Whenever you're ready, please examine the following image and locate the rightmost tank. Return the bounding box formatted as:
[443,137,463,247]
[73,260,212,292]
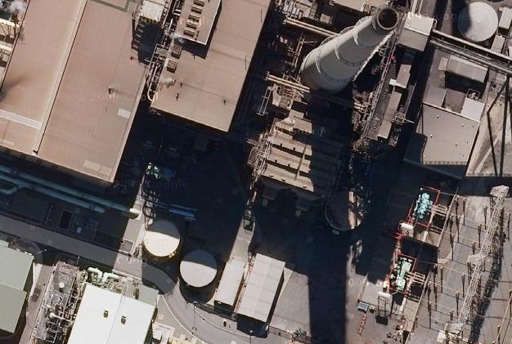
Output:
[456,1,499,44]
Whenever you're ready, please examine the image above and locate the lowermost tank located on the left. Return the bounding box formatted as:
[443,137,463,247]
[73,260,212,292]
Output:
[179,249,217,289]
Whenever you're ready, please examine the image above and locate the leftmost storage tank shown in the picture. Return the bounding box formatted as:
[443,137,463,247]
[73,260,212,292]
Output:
[143,219,181,259]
